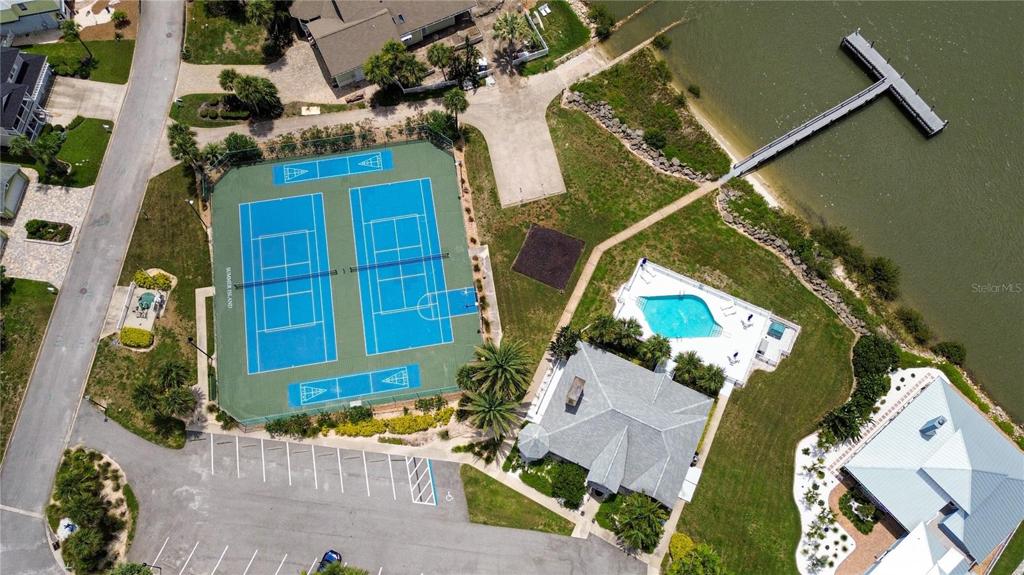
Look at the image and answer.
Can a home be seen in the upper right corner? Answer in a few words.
No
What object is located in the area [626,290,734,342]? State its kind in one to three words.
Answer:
swimming pool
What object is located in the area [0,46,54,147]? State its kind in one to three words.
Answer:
house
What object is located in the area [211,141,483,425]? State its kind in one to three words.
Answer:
sports court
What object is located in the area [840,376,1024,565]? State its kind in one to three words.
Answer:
house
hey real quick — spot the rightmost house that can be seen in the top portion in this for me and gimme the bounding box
[288,0,477,84]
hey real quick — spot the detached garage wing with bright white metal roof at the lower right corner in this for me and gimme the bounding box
[859,523,970,575]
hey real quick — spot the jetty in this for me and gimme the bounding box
[720,25,951,186]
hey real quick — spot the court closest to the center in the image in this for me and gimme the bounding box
[417,288,478,320]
